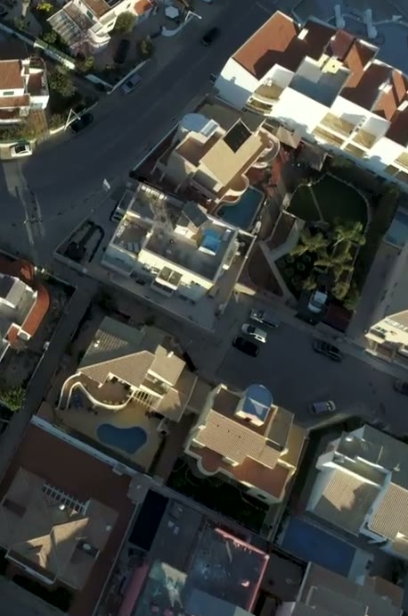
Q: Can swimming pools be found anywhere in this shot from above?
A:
Yes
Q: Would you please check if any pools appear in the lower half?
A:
Yes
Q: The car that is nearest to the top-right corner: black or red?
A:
black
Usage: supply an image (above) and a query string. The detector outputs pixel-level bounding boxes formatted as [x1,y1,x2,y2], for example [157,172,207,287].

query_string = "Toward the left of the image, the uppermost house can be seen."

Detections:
[43,0,153,57]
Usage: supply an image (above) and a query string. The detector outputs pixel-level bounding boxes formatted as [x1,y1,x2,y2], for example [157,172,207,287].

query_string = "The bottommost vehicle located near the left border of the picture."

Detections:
[9,143,33,156]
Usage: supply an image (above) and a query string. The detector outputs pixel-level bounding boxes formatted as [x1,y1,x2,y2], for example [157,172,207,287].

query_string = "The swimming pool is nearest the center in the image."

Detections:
[213,184,268,233]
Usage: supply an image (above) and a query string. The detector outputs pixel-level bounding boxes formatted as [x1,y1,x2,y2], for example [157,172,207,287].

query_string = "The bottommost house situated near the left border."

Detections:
[0,466,150,590]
